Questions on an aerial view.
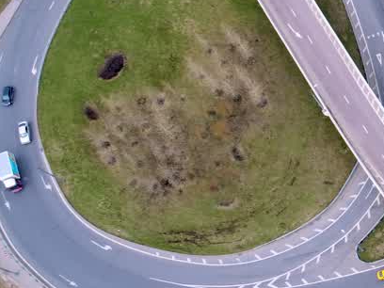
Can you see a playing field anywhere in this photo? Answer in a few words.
No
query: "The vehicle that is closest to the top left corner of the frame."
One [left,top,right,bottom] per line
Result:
[0,85,15,106]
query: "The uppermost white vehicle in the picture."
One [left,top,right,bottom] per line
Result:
[16,122,32,142]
